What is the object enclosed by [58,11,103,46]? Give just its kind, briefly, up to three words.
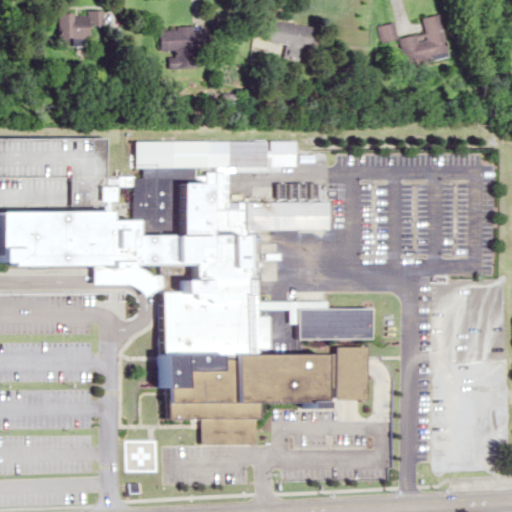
house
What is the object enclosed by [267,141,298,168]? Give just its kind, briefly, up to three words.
building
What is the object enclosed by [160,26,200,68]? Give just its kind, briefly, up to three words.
house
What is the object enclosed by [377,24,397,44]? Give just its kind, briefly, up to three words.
building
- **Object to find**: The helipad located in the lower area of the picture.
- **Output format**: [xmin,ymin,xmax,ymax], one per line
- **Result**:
[122,438,158,474]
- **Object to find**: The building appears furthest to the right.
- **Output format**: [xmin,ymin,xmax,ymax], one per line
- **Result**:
[400,14,450,64]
